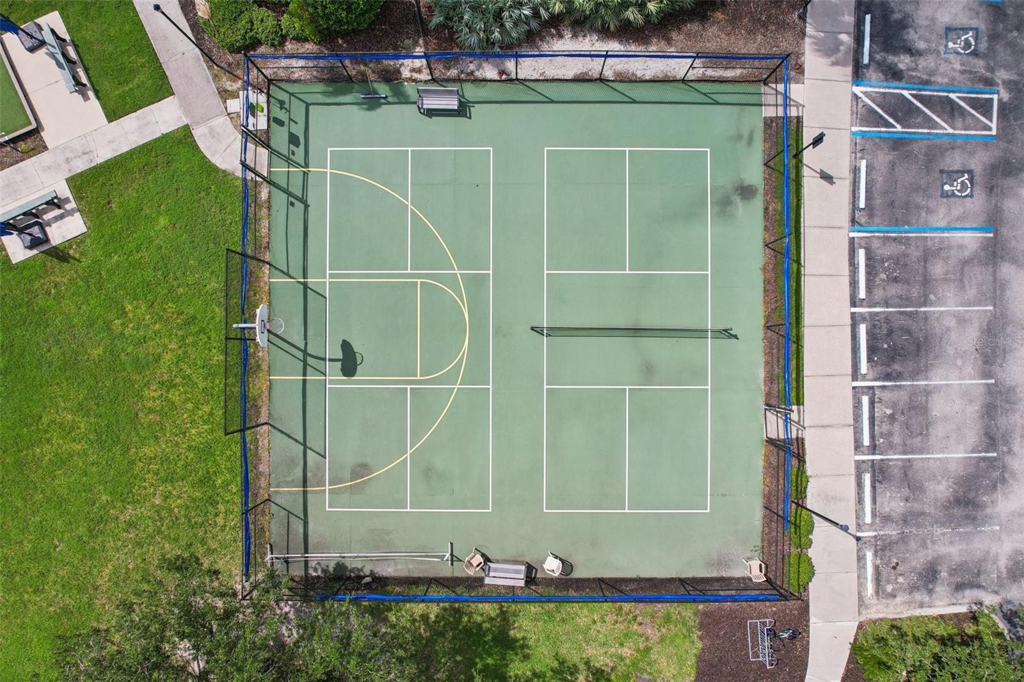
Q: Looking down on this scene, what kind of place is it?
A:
sports ground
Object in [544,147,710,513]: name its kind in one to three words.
sports court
